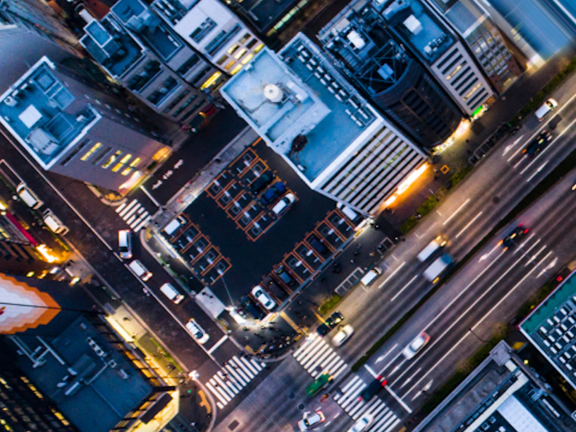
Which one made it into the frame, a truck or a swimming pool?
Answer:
truck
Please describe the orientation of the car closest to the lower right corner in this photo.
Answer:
at an angle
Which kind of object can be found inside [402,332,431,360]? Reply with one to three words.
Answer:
car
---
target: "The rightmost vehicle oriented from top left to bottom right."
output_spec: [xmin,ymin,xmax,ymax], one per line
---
[333,201,362,226]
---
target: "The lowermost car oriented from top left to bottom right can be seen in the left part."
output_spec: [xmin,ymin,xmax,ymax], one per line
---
[181,316,210,345]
